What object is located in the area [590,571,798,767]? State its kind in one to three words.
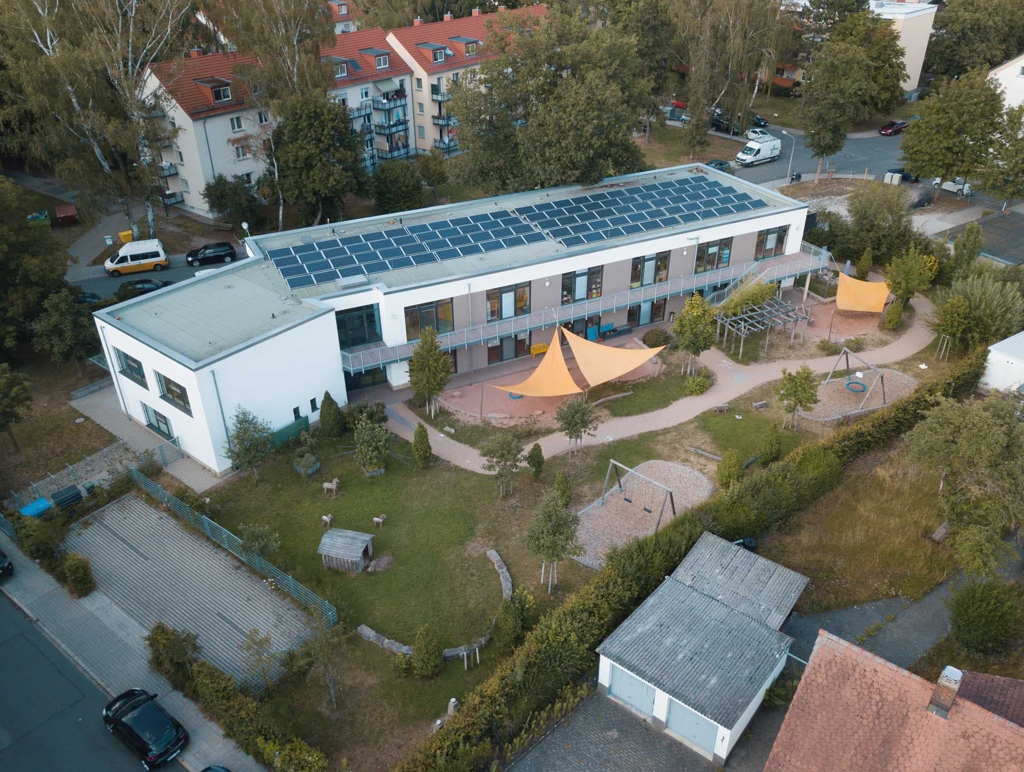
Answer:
building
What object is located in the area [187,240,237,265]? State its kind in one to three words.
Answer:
car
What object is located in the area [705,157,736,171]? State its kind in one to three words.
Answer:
car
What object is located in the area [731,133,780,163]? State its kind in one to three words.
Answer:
van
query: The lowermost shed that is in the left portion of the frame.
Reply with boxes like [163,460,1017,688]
[317,536,372,572]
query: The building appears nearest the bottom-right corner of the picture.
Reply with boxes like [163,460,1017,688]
[759,628,1024,772]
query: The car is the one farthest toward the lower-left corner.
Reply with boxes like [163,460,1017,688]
[106,690,189,772]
